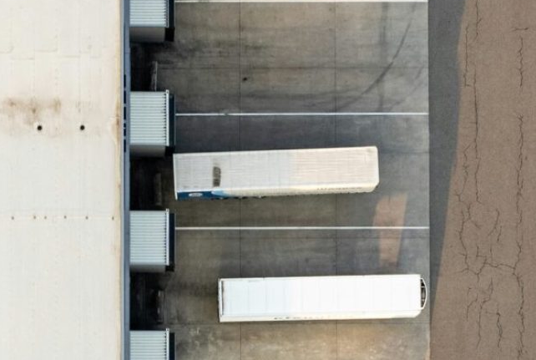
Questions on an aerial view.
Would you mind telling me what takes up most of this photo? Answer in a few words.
paved ground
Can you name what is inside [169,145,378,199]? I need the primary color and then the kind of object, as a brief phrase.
white trailer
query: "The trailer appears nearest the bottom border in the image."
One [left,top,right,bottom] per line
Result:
[212,274,427,320]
